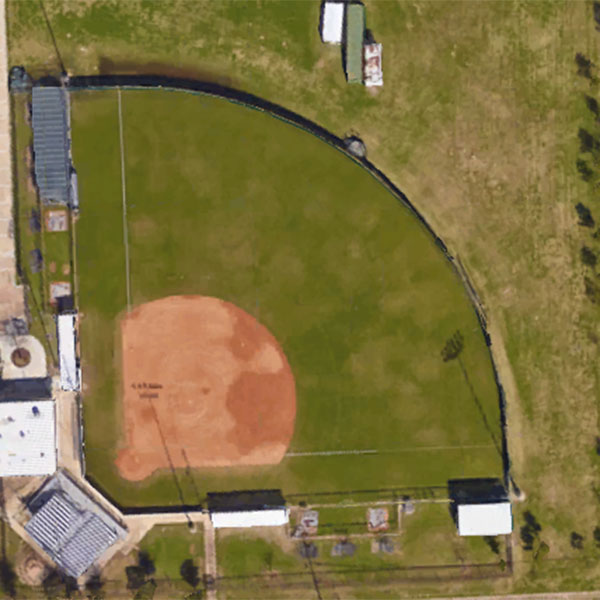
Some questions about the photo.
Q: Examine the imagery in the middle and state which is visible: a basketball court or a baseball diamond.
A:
baseball diamond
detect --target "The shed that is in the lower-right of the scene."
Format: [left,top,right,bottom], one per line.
[458,503,513,536]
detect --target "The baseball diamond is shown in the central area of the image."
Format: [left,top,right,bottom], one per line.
[69,87,508,513]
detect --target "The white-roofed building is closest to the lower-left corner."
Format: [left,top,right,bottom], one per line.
[0,401,58,476]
